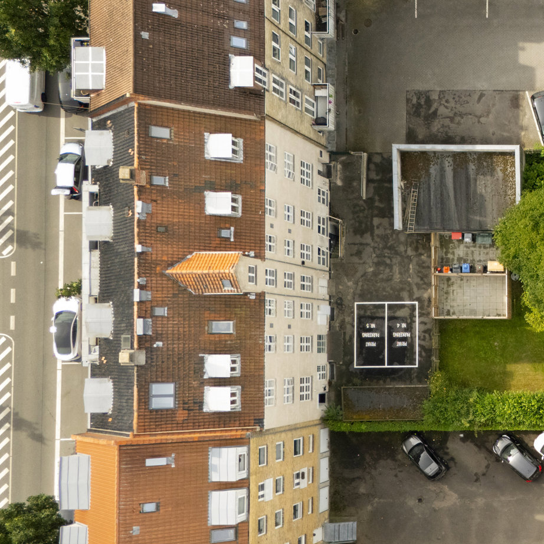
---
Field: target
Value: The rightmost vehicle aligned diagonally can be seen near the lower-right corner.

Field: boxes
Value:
[493,432,543,484]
